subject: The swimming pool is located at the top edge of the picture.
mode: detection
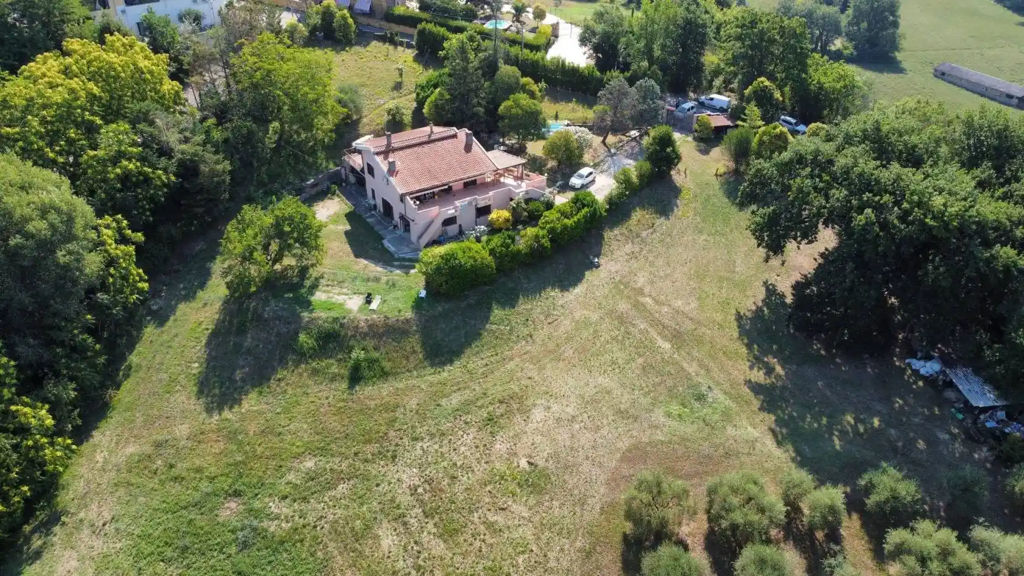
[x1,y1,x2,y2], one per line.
[483,17,511,30]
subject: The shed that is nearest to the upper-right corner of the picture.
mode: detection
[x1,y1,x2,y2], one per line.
[935,60,1024,111]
